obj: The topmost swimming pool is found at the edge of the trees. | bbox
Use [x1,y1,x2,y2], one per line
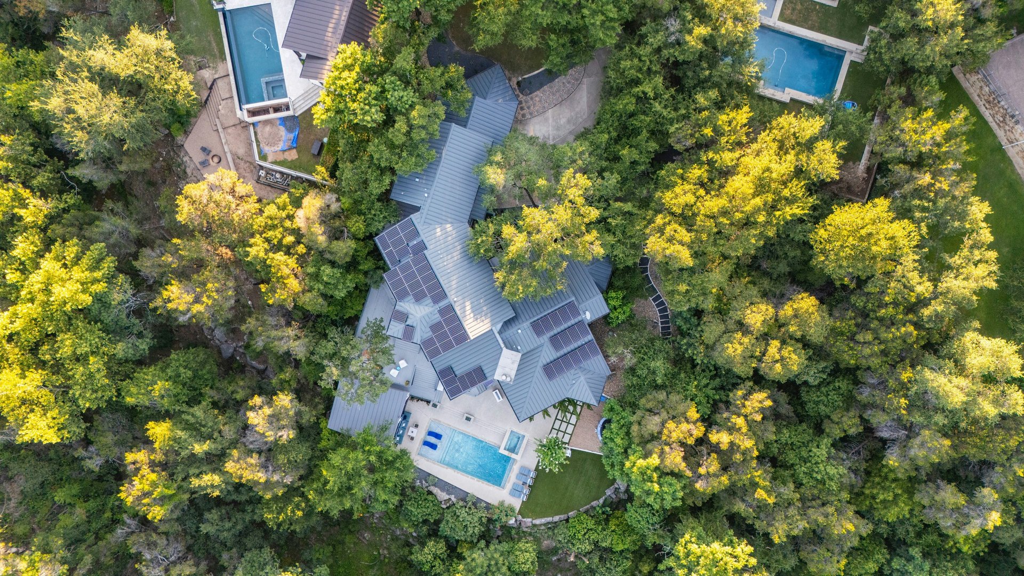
[762,0,784,20]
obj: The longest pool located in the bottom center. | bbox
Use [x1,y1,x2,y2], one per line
[415,416,519,494]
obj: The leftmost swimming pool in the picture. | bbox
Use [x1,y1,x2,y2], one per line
[218,4,296,123]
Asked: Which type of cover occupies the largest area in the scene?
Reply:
trees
